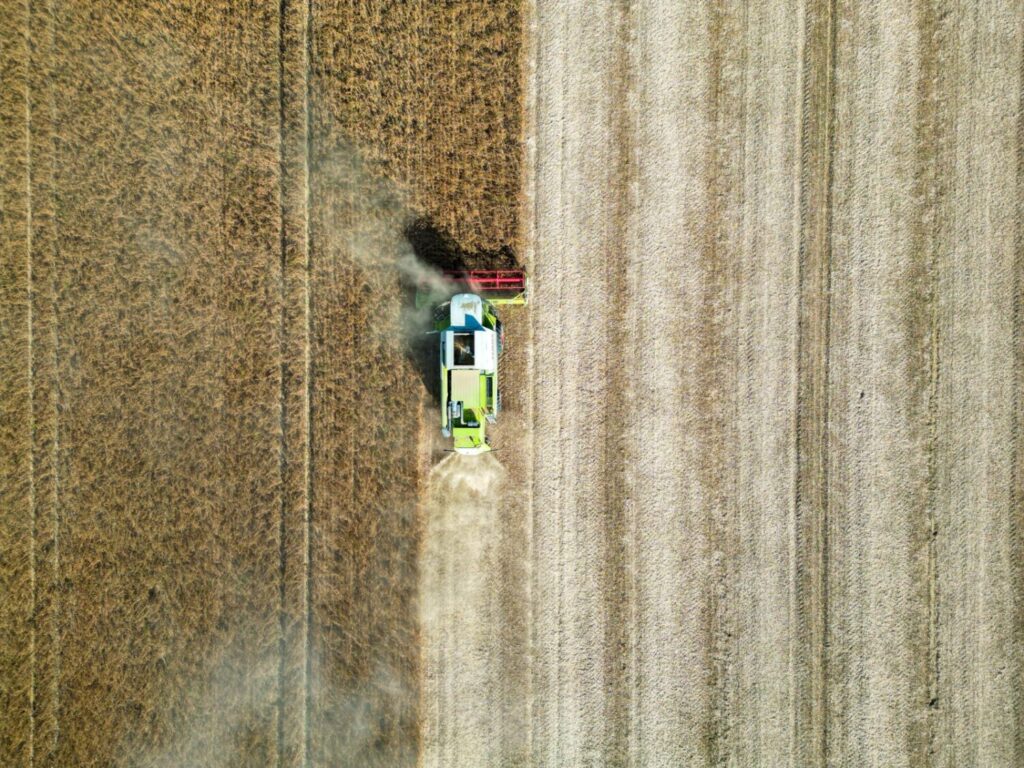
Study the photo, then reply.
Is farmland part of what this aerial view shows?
Yes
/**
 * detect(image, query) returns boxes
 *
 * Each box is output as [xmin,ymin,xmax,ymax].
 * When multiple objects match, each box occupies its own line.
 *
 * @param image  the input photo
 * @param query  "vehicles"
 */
[415,264,528,457]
